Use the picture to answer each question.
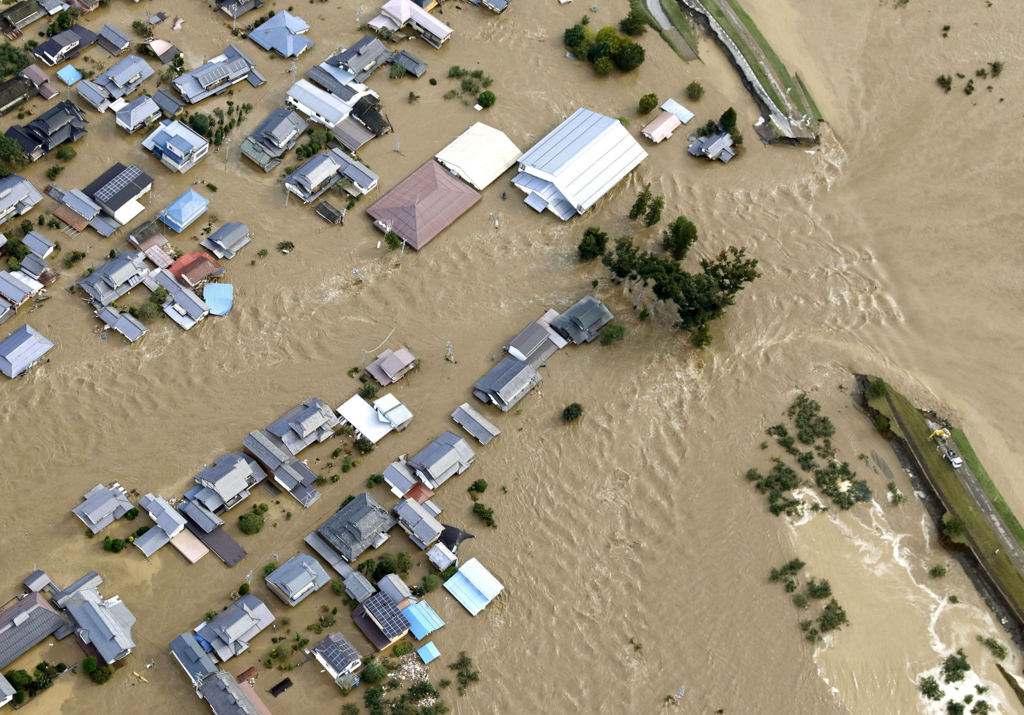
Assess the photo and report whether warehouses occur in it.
Yes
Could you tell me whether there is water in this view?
Yes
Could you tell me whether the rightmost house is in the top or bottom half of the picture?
top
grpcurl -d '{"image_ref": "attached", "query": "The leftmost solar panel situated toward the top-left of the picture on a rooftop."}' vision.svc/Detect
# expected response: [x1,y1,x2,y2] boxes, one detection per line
[99,171,140,204]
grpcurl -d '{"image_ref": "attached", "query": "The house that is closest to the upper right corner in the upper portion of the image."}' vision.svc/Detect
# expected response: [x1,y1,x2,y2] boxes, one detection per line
[688,132,738,164]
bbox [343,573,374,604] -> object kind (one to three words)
shed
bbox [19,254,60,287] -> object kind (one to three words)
house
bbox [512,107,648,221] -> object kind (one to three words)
warehouse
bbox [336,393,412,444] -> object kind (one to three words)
building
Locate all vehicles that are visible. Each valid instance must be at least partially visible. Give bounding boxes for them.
[946,447,964,467]
[925,427,959,447]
